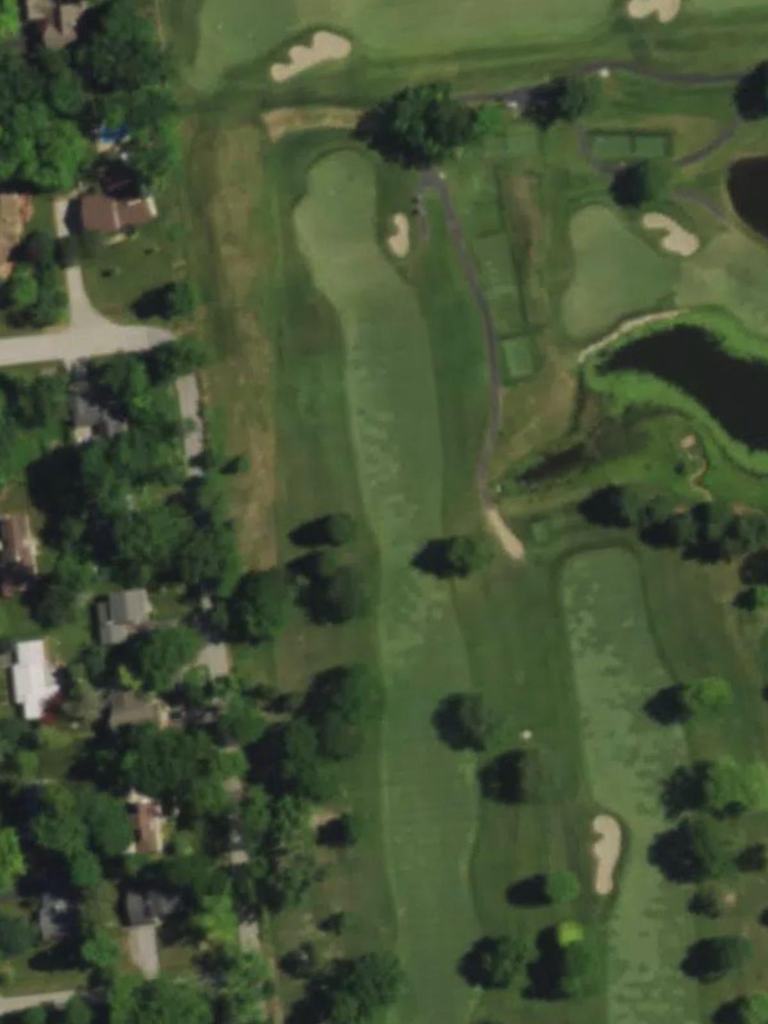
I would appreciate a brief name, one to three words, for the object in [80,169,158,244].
house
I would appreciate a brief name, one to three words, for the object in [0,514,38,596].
house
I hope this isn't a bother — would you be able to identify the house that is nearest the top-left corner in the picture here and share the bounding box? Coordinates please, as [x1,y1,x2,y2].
[24,0,80,51]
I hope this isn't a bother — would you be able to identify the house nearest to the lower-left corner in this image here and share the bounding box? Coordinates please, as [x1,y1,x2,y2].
[38,895,79,942]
